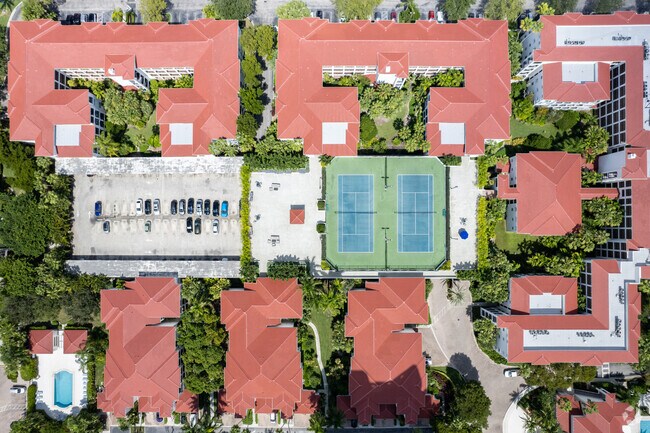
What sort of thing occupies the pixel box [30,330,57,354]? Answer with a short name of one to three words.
building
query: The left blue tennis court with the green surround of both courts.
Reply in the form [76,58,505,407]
[326,158,446,270]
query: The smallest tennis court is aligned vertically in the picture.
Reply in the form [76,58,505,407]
[397,174,434,253]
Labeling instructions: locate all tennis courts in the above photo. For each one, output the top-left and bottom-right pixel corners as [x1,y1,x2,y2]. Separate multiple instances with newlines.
[326,158,446,270]
[397,174,434,253]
